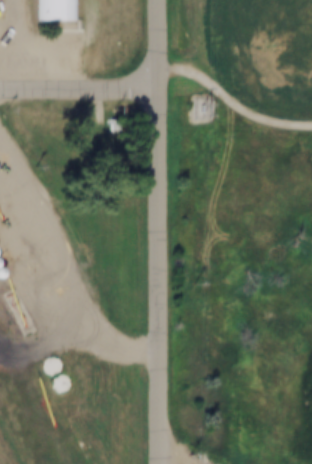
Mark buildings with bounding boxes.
[37,0,79,23]
[104,118,122,136]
